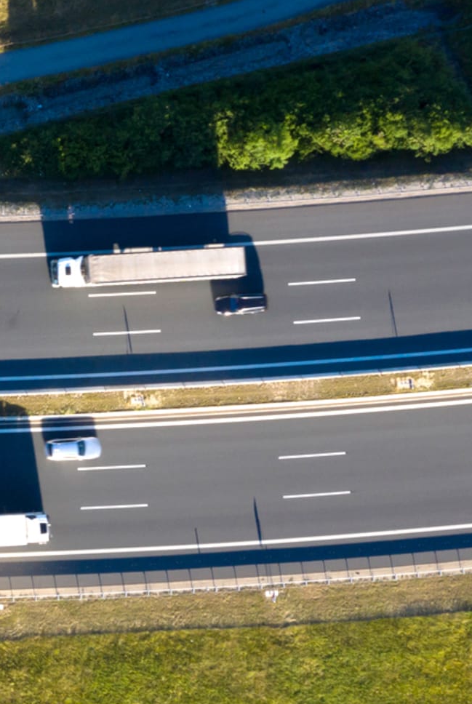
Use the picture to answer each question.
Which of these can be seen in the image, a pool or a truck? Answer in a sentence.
Looking from above, you can make out a truck.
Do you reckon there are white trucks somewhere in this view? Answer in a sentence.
Yes, the picture does show a white truck.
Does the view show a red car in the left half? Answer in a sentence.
No, there is no red car in the left half.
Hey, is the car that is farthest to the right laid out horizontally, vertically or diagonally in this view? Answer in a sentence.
In this picture, the car that is farthest to the right lies horizontally.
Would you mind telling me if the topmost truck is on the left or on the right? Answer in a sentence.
It is on the left.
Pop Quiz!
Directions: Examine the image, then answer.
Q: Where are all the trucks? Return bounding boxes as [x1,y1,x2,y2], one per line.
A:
[0,509,50,546]
[48,248,247,293]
